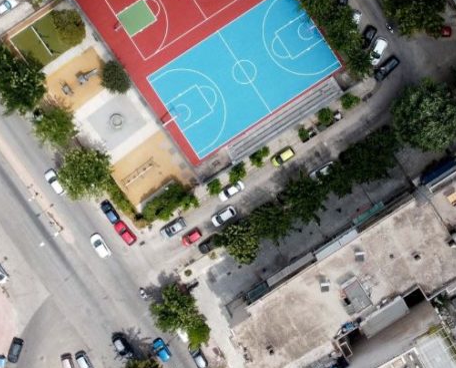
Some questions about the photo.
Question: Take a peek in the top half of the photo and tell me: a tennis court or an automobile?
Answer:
automobile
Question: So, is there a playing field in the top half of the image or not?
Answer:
Yes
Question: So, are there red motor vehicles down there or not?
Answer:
Yes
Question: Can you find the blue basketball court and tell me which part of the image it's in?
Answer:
top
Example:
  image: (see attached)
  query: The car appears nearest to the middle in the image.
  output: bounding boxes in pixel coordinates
[218,182,245,201]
